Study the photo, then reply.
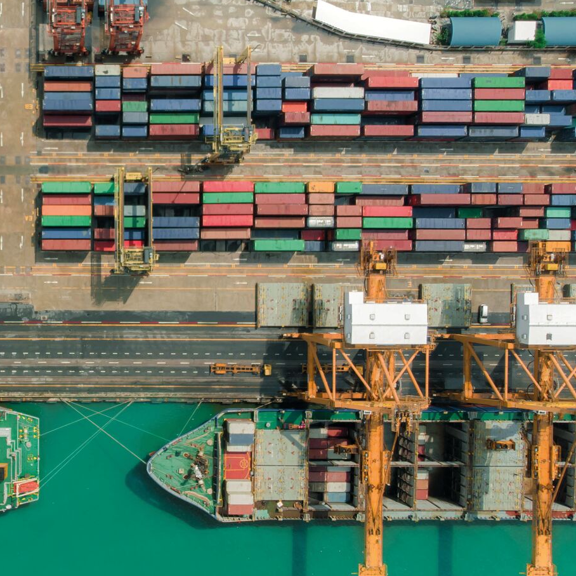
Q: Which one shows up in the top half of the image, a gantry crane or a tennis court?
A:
gantry crane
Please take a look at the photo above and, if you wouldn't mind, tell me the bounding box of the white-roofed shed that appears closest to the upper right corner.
[505,21,537,45]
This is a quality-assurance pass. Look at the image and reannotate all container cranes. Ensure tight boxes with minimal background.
[427,238,576,576]
[96,0,148,52]
[274,237,432,576]
[107,165,158,274]
[196,42,256,159]
[46,0,93,52]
